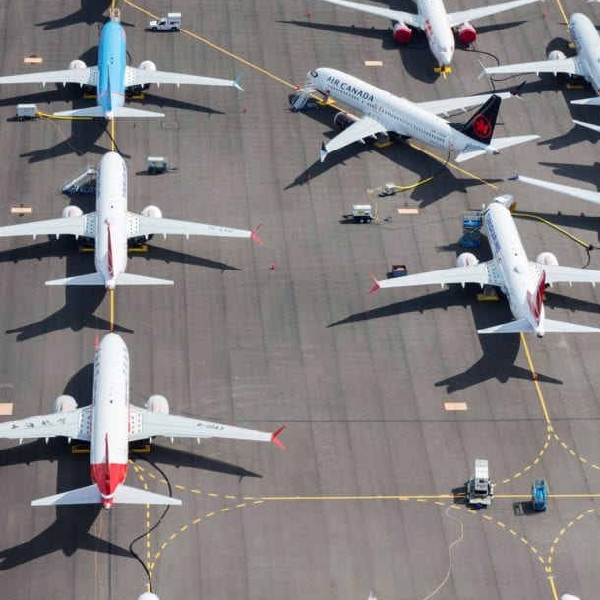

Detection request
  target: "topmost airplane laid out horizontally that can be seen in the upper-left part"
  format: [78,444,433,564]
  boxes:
[0,19,243,121]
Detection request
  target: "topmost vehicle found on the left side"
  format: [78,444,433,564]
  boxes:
[149,12,183,32]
